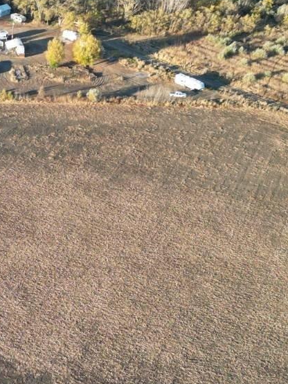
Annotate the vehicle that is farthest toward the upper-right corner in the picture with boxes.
[176,72,210,90]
